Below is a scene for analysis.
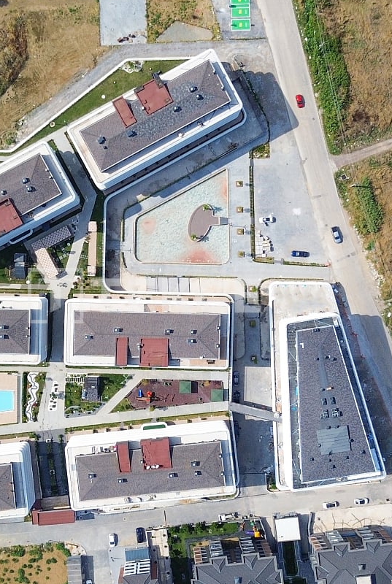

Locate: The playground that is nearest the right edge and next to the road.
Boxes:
[186,520,263,573]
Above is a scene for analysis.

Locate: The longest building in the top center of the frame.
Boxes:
[68,51,242,195]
